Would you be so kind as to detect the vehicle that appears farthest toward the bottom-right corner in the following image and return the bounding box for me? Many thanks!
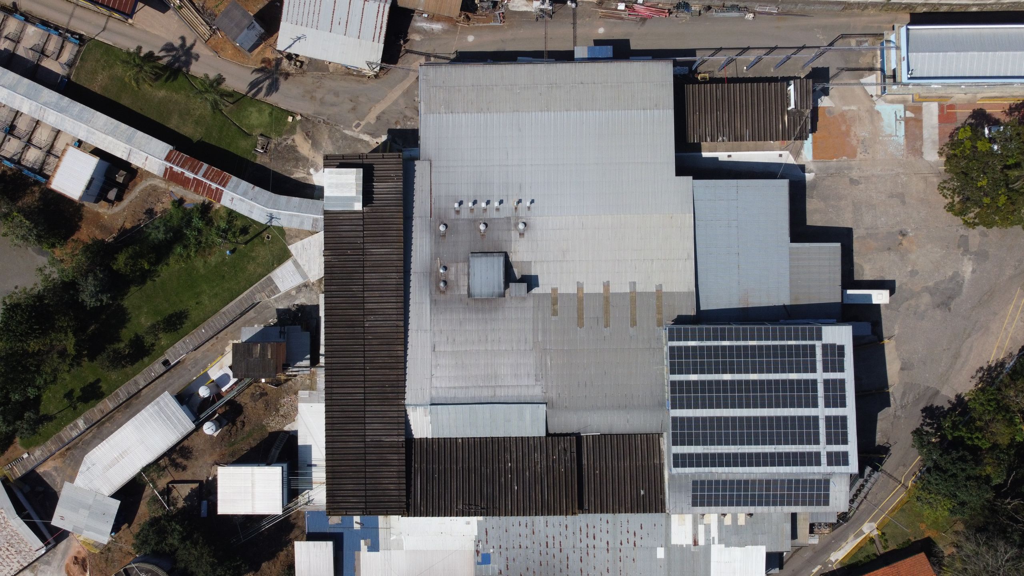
[842,290,886,303]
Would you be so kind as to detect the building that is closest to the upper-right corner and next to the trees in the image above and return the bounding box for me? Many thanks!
[874,23,1024,100]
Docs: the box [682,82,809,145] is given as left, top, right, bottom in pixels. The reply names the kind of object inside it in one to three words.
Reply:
shed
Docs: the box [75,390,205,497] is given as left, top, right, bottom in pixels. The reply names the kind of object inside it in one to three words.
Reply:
shed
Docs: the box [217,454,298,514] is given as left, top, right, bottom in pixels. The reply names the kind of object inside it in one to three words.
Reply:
building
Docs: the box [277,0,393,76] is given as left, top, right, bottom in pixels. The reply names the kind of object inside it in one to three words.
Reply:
building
